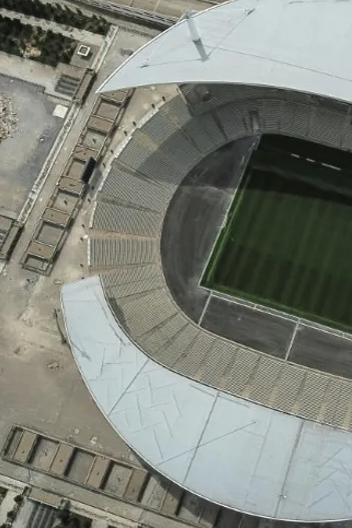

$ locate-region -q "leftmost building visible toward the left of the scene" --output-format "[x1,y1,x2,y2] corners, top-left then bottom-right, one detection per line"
[0,219,24,259]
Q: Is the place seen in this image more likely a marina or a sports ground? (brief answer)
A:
sports ground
